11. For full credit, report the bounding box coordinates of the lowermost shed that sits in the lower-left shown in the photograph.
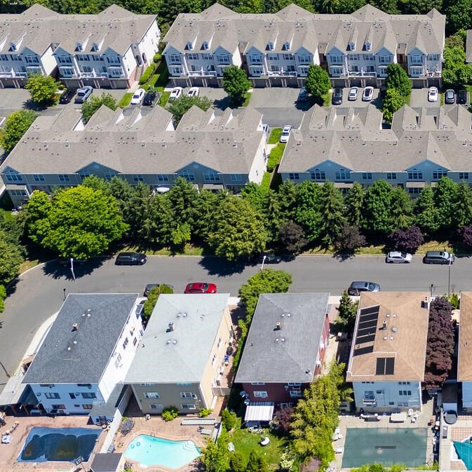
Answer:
[91,451,128,472]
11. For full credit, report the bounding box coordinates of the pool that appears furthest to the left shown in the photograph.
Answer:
[13,425,105,465]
